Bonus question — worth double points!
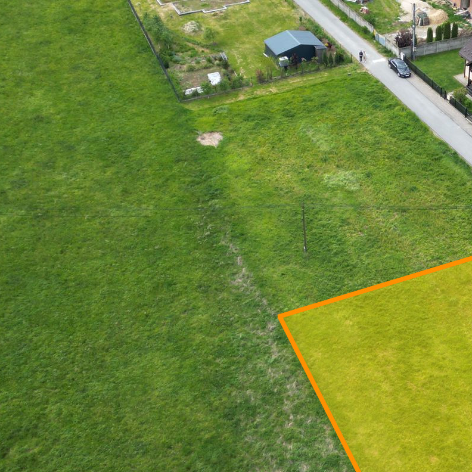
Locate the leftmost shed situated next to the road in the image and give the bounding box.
[263,29,325,69]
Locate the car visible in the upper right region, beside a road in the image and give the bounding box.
[387,58,411,77]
